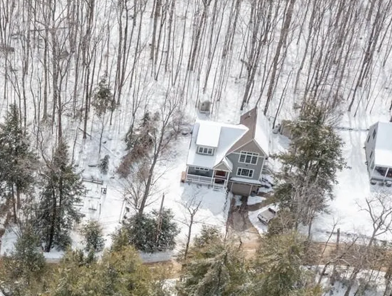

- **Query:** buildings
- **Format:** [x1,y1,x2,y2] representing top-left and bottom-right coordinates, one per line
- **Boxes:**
[199,96,213,112]
[359,116,392,181]
[186,104,282,215]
